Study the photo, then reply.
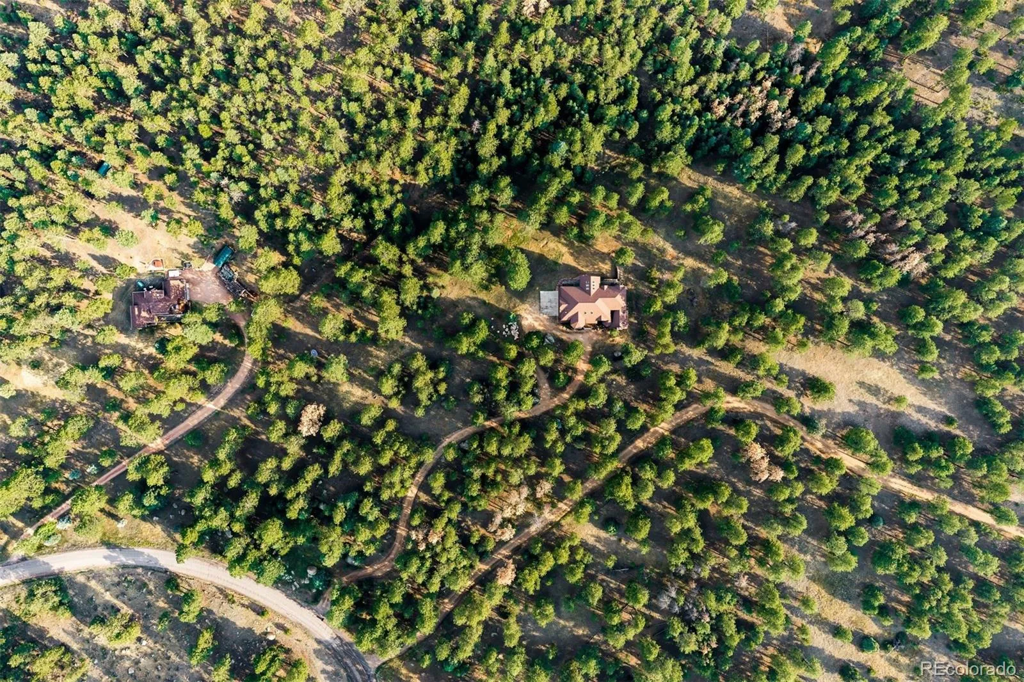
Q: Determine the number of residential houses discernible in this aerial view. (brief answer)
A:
2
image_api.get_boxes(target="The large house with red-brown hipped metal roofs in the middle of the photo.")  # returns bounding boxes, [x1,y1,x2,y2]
[558,275,627,329]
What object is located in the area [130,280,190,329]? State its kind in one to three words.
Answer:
house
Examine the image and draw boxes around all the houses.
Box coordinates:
[558,275,627,329]
[130,280,190,329]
